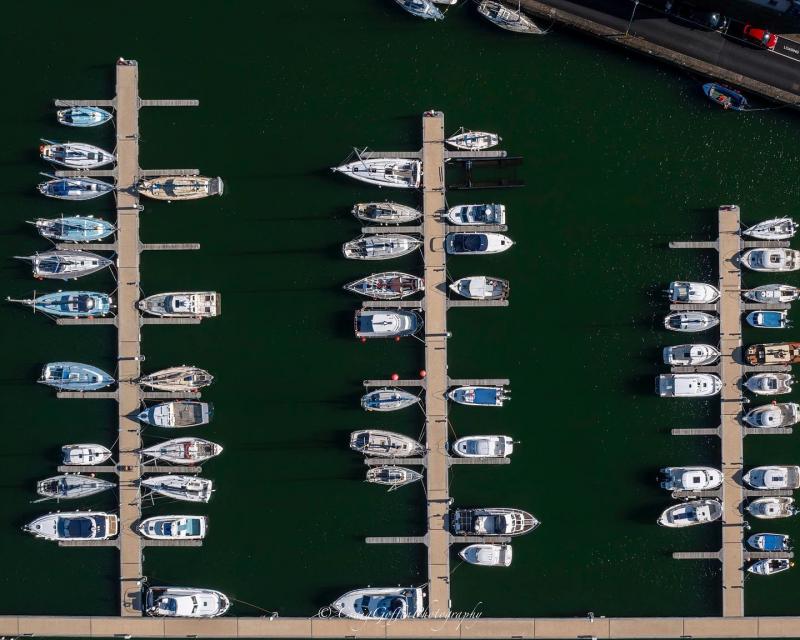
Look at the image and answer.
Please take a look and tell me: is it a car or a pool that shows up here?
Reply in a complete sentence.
The image shows a car.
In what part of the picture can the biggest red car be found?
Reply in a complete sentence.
The biggest red car is in the top right part of the image.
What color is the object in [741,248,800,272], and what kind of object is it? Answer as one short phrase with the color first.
white boat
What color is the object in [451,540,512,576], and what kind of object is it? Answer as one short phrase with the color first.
white boat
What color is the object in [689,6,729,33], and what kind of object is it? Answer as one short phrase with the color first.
black car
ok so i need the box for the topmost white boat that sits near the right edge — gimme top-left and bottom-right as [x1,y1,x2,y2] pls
[741,219,798,243]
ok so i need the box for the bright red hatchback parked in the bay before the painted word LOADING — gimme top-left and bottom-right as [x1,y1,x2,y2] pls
[741,26,779,52]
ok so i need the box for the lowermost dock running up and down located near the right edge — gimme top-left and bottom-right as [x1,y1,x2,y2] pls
[670,206,793,617]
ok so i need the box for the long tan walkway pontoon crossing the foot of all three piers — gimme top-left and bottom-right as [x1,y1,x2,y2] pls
[0,615,800,640]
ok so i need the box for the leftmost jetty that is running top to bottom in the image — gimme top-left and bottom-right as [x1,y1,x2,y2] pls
[55,59,203,616]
